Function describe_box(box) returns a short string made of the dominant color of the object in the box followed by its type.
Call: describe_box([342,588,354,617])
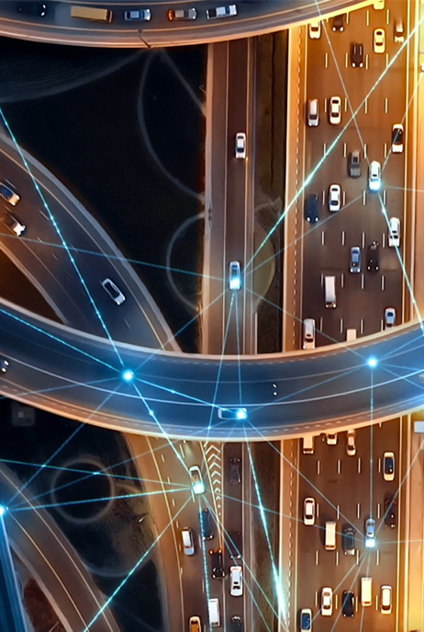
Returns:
black vehicle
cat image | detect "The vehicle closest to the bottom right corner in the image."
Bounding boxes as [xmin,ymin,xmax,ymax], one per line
[380,585,394,613]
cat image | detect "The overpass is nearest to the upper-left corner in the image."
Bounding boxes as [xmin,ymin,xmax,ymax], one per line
[0,0,380,50]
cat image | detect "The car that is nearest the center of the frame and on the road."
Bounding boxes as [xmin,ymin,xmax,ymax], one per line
[228,261,241,289]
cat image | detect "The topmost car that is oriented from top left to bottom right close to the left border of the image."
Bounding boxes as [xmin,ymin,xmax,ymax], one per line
[0,181,19,204]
